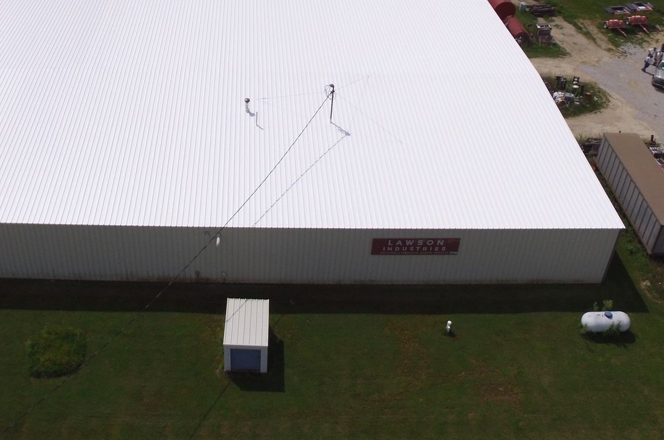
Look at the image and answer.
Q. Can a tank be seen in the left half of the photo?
No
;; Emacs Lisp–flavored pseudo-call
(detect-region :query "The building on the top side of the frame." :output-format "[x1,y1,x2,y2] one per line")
[0,0,631,285]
